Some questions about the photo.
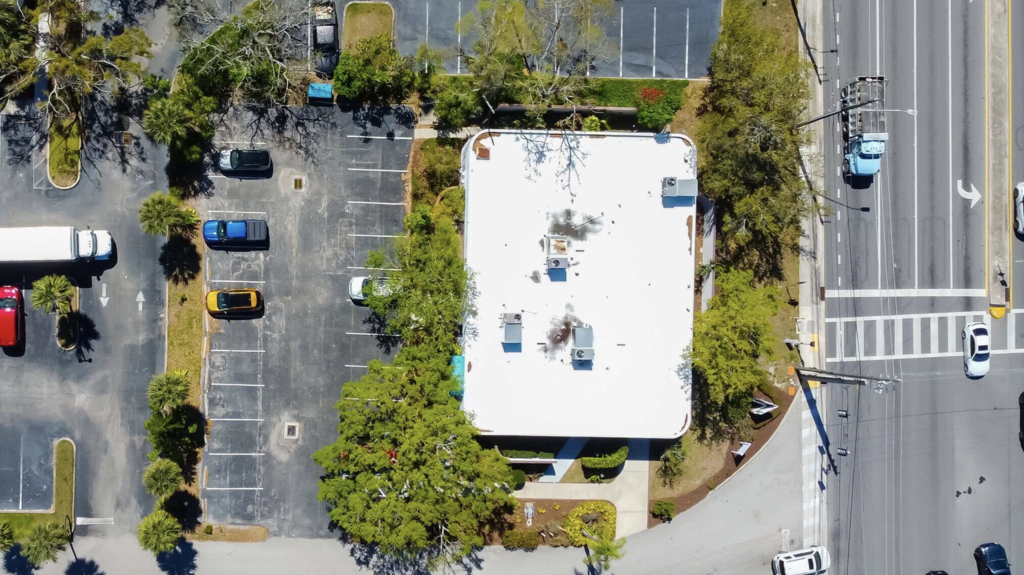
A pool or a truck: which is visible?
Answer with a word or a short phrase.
truck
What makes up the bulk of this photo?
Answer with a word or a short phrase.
paved ground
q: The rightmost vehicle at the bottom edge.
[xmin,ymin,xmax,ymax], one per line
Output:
[977,541,1013,575]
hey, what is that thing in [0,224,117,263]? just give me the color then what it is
white truck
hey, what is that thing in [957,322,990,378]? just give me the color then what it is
white car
